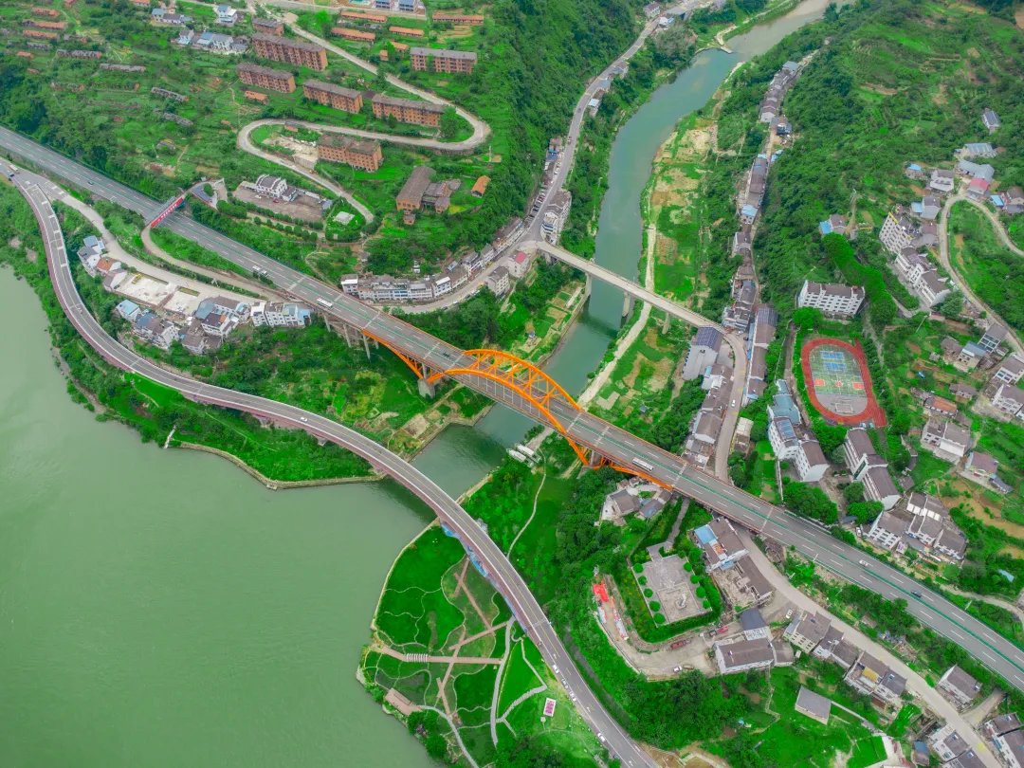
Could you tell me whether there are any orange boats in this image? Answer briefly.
No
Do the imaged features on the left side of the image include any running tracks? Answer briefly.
No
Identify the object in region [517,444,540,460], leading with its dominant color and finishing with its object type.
white boat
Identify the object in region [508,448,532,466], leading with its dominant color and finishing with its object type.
white boat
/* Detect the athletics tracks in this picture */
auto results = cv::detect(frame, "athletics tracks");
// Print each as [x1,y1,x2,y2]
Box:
[801,338,887,426]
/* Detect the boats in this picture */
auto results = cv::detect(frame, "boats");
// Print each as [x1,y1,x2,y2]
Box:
[517,444,540,460]
[508,448,532,466]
